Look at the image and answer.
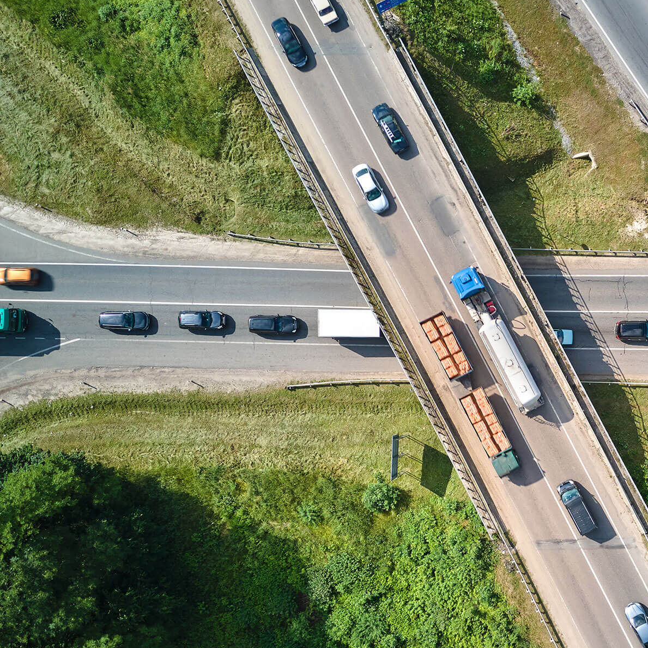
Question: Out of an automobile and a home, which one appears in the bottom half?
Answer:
automobile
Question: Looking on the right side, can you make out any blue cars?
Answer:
Yes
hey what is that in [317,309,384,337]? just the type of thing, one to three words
truck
